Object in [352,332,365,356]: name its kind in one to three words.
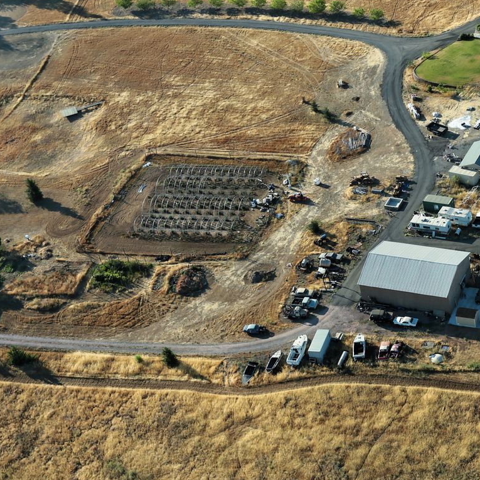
boat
